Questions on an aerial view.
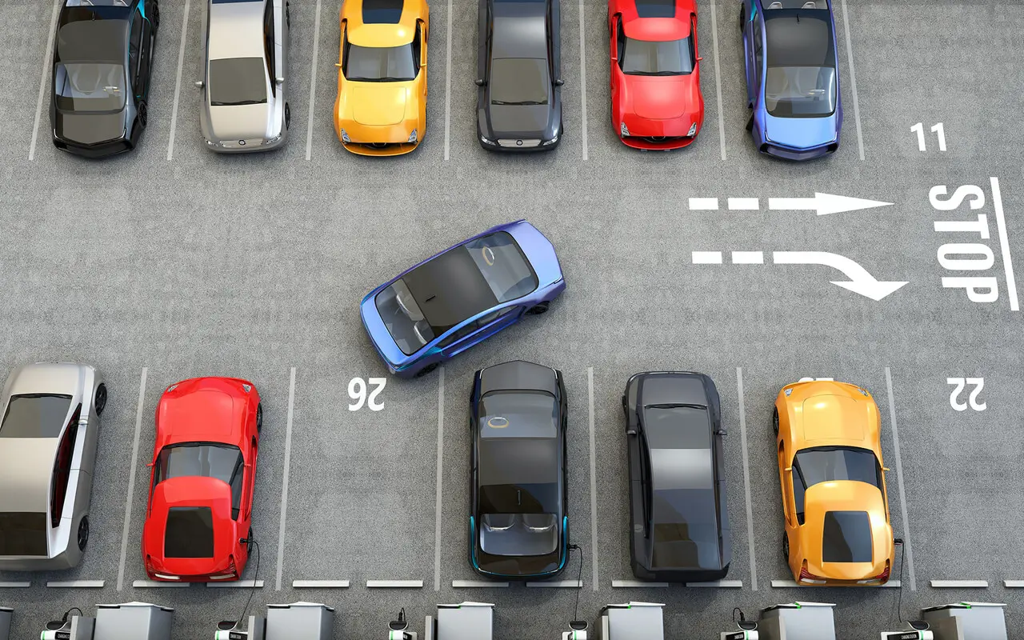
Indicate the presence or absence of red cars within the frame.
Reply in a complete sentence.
Yes, I can see a red car in this picture.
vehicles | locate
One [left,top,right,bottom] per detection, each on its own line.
[358,219,565,380]
[776,381,895,587]
[622,372,729,584]
[470,359,567,580]
[55,0,155,161]
[332,0,429,161]
[143,379,259,584]
[609,0,705,156]
[0,365,105,576]
[193,0,295,153]
[472,0,567,152]
[742,0,841,161]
